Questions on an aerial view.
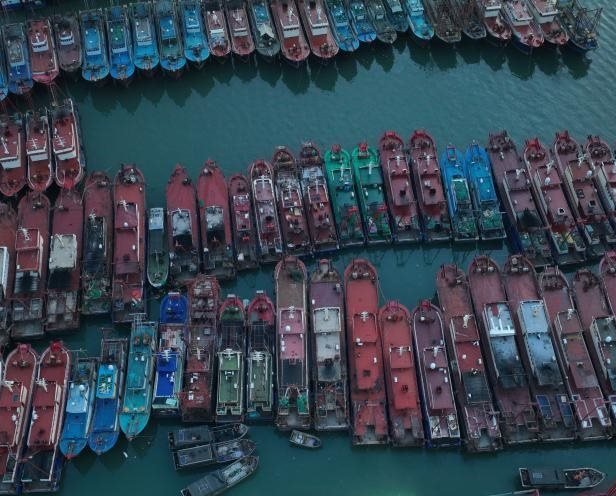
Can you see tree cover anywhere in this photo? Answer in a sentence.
No, the scene doesn't show any tree cover.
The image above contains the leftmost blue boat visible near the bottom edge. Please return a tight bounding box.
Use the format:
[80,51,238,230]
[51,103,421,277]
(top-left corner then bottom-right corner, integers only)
[59,357,100,481]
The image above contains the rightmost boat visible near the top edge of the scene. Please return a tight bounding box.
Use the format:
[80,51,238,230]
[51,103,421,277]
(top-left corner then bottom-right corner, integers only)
[562,0,607,70]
